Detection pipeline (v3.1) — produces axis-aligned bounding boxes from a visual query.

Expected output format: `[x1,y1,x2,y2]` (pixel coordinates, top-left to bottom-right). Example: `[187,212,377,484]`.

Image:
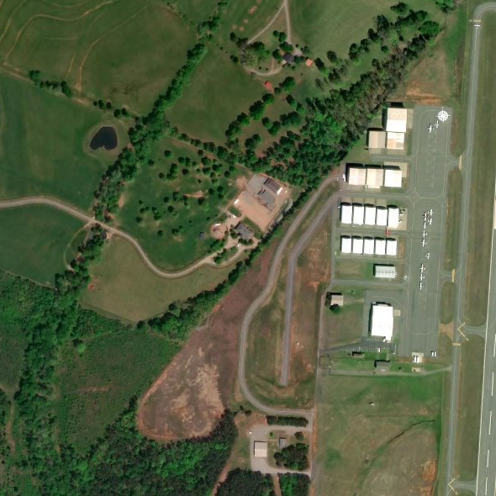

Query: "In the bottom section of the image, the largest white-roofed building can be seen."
[371,305,394,343]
